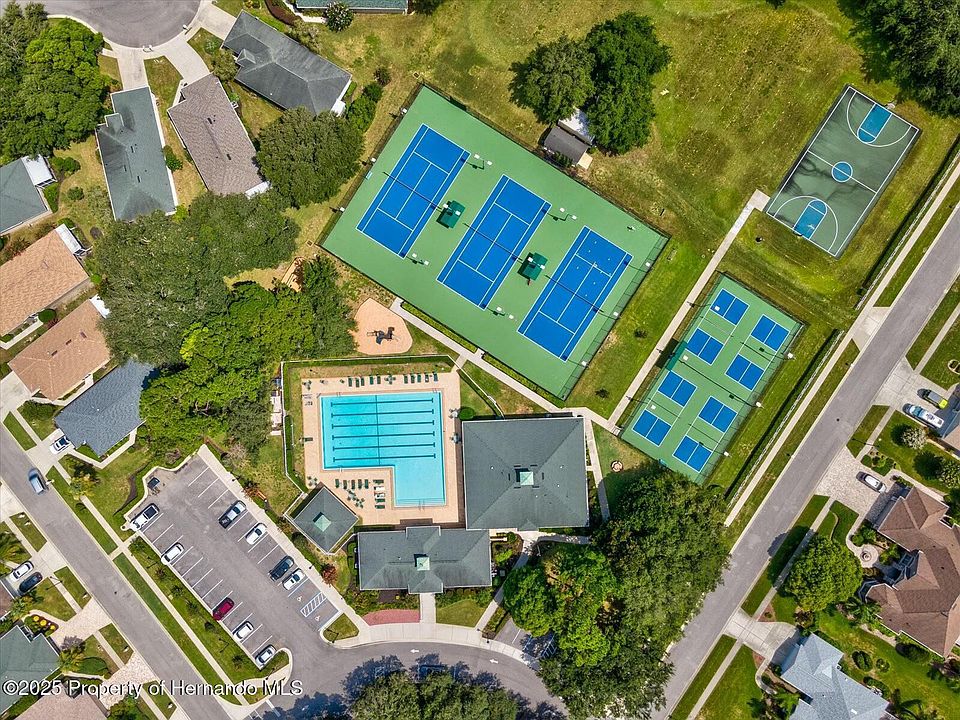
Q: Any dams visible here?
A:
No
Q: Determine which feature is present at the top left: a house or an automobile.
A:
house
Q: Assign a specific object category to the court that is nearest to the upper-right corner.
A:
basketball court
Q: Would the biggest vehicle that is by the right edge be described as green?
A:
No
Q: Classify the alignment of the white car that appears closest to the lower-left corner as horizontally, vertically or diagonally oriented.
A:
diagonally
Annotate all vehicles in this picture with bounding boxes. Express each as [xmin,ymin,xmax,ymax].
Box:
[905,405,944,428]
[162,542,186,563]
[232,620,255,641]
[860,472,885,491]
[213,597,234,620]
[21,571,45,592]
[425,655,437,681]
[255,645,277,667]
[11,559,36,580]
[27,469,49,495]
[219,502,247,528]
[245,523,268,545]
[282,568,306,591]
[50,435,71,454]
[920,390,944,408]
[268,555,294,581]
[131,503,160,531]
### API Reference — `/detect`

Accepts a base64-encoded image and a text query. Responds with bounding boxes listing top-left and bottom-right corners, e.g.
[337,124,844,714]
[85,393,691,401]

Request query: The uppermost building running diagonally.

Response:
[222,9,352,121]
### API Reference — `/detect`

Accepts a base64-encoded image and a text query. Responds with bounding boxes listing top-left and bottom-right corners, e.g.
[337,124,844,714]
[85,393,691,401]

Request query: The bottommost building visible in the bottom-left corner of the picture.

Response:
[12,679,108,720]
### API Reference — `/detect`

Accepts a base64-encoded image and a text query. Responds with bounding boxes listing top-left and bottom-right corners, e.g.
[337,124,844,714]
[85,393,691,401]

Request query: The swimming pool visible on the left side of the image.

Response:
[318,388,448,509]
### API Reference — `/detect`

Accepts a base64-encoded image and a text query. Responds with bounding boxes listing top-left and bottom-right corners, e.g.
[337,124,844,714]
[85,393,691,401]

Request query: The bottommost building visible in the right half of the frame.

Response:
[774,632,888,720]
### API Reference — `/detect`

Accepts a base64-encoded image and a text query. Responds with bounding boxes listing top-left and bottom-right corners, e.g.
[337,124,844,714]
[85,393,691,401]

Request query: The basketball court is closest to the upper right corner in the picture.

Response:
[760,81,925,262]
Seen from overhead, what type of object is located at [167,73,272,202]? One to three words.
house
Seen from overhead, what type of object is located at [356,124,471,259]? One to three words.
tennis court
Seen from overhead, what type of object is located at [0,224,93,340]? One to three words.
house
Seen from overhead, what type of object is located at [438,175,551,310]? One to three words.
tennis court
